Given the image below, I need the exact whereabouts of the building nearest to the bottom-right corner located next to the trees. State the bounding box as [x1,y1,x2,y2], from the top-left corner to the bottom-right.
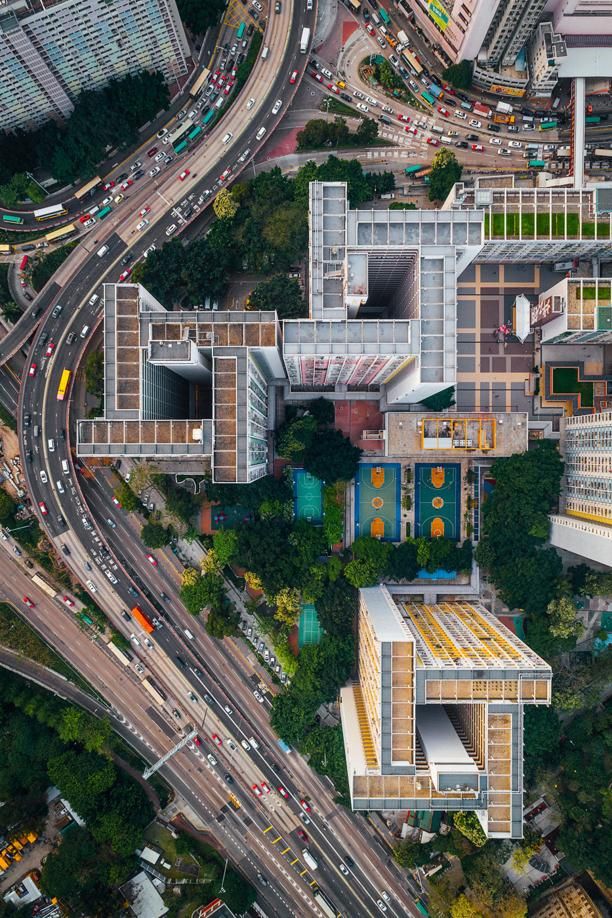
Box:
[521,867,603,918]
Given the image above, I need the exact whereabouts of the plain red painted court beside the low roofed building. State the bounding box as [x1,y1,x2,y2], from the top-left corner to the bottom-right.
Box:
[334,400,383,456]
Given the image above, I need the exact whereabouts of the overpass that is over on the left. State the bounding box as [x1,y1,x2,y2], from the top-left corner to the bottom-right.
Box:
[15,0,403,918]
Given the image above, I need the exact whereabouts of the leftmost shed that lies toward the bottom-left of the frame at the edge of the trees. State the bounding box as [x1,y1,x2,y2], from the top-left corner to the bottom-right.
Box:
[4,870,47,910]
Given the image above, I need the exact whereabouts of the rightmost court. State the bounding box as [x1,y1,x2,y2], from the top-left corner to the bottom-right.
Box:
[415,463,461,541]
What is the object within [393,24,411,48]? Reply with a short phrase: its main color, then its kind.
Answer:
white vehicle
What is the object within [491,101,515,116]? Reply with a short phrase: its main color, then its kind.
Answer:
white vehicle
